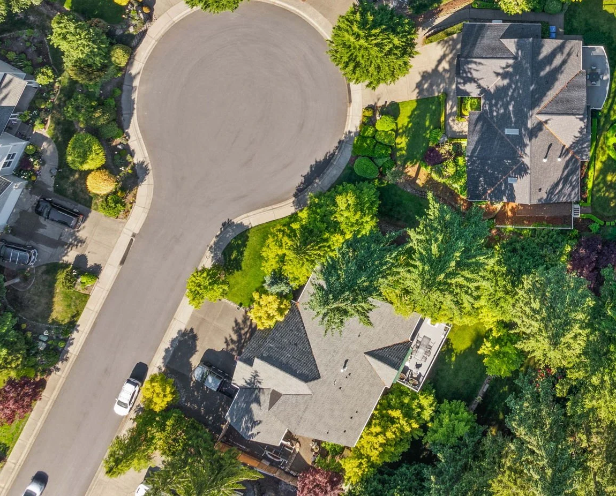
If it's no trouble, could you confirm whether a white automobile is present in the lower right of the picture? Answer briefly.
No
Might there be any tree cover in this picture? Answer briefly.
Yes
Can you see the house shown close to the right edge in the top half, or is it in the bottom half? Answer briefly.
top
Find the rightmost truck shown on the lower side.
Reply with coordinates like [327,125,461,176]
[190,359,239,397]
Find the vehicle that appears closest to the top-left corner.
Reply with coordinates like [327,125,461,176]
[34,196,85,231]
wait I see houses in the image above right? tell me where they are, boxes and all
[455,19,591,205]
[217,259,426,448]
[0,60,28,229]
